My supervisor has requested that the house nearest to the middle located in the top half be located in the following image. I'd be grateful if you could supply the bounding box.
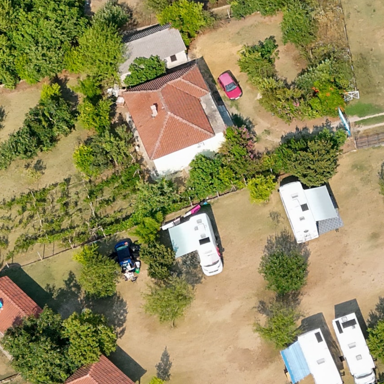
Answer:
[122,63,227,173]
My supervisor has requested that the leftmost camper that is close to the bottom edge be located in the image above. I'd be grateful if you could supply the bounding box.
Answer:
[282,329,346,384]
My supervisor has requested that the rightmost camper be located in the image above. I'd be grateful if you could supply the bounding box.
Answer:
[332,313,379,384]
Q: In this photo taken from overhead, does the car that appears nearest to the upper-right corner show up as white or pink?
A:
pink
